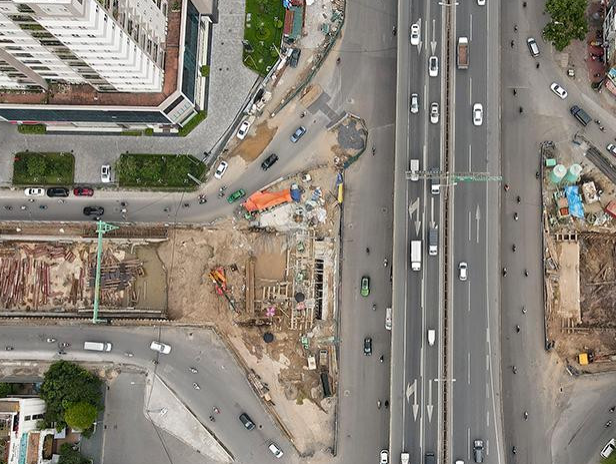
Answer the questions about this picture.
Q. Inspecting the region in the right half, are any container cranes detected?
No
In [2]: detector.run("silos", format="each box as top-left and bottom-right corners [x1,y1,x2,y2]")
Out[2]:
[564,162,582,180]
[547,165,565,184]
